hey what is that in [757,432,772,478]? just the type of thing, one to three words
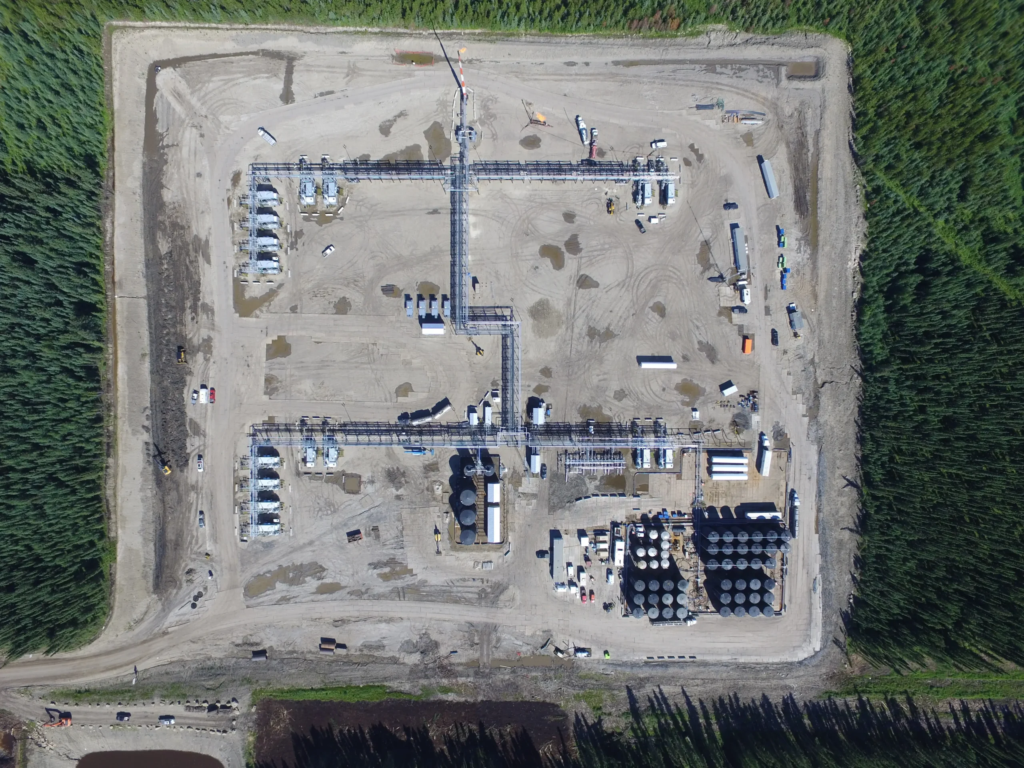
vehicle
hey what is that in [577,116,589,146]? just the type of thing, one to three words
vehicle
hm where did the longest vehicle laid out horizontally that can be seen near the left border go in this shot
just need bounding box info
[44,717,73,730]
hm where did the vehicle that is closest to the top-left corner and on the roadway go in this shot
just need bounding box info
[256,126,277,147]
